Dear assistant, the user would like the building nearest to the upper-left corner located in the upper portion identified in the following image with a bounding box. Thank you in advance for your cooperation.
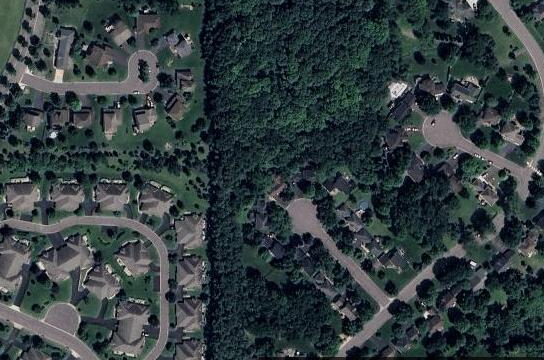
[53,32,71,72]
